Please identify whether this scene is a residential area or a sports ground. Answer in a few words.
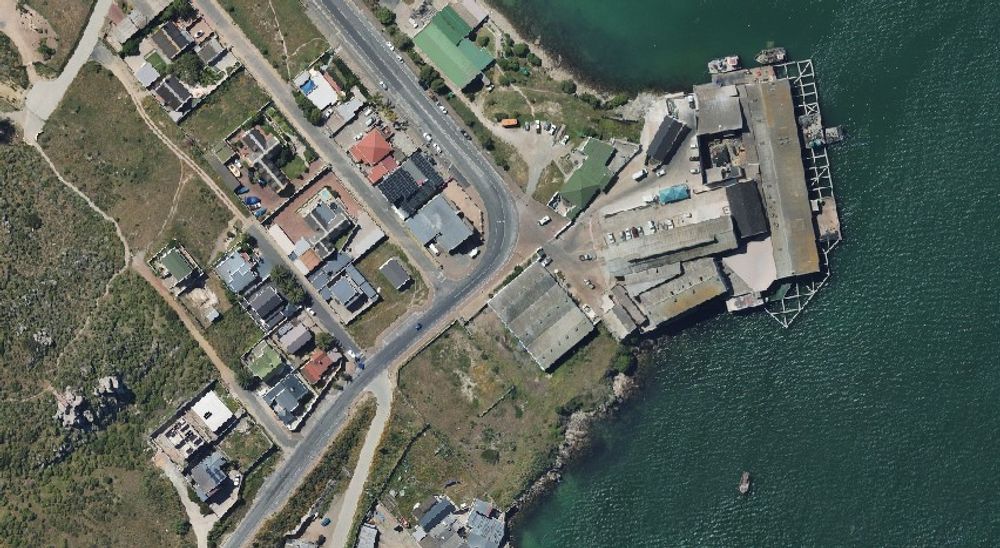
residential area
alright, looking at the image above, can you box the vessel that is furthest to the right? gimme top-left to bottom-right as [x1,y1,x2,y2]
[825,128,843,141]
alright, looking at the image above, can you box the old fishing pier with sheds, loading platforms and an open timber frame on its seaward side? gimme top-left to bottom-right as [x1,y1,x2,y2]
[640,60,841,331]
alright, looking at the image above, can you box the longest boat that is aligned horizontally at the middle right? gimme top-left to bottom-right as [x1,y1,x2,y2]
[729,293,763,312]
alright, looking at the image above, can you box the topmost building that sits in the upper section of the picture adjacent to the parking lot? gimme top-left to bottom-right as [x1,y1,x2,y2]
[414,0,496,89]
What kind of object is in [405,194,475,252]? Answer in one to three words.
building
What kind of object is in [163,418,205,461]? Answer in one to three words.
house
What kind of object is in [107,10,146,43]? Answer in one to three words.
shed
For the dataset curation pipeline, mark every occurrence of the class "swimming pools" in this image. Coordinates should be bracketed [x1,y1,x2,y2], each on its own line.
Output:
[300,79,315,95]
[320,189,331,201]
